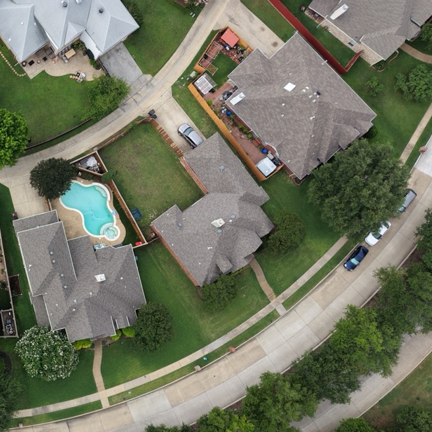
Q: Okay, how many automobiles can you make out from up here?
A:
4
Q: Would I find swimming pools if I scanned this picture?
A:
Yes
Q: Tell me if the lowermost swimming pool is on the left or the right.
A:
left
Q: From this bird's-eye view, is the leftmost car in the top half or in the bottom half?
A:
top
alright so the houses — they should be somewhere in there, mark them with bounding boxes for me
[0,0,139,67]
[11,209,146,345]
[148,132,273,286]
[317,0,432,67]
[222,32,379,180]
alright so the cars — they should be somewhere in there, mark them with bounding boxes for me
[177,121,202,150]
[391,187,419,218]
[341,245,369,272]
[364,218,393,246]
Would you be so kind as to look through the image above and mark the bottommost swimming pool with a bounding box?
[60,180,119,242]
